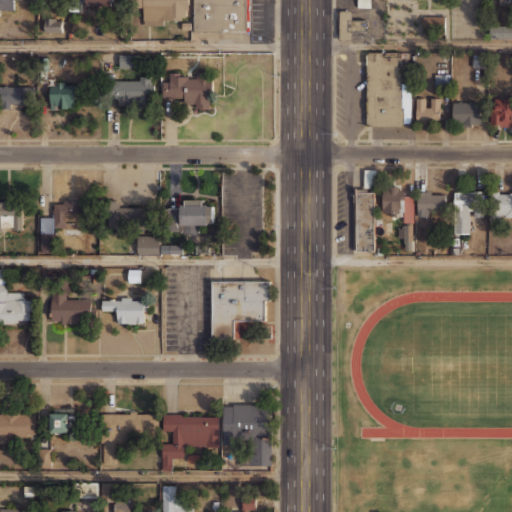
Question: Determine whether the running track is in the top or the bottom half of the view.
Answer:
bottom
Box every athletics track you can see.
[352,292,512,442]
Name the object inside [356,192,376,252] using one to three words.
building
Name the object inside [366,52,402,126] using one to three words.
building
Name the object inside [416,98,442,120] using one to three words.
house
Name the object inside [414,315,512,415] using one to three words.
sports field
